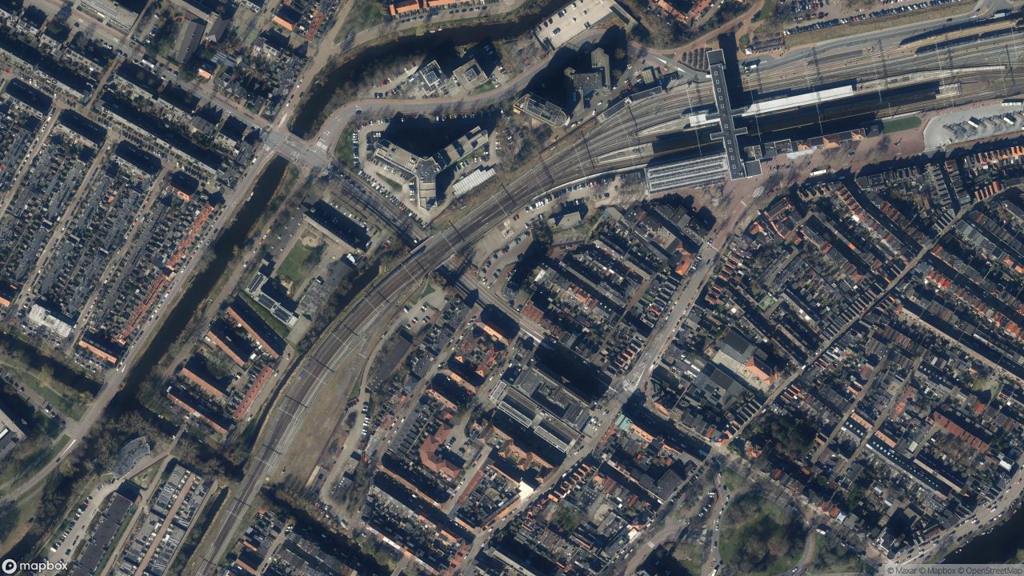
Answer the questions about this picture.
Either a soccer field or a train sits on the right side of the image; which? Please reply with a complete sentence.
Looking on the right side of the image, you will find a train.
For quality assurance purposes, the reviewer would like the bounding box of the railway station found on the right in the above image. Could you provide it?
[531,48,1006,201]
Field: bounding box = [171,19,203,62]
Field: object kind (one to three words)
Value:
building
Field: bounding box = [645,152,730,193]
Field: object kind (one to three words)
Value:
shed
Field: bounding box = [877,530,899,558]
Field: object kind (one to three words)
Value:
building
